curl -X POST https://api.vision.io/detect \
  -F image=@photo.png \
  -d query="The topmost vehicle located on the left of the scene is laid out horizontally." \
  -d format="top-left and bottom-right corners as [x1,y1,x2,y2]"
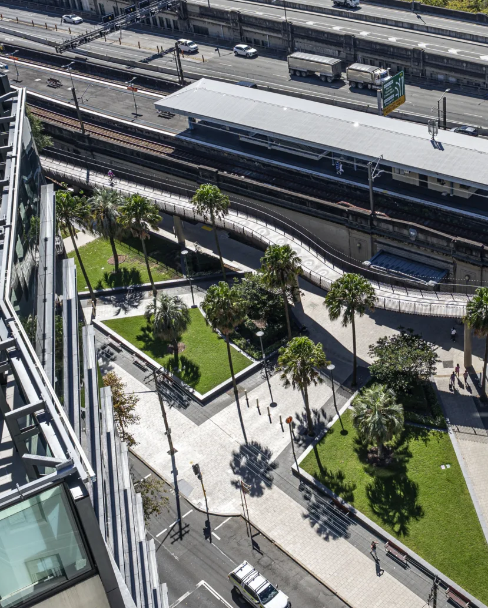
[57,11,86,24]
